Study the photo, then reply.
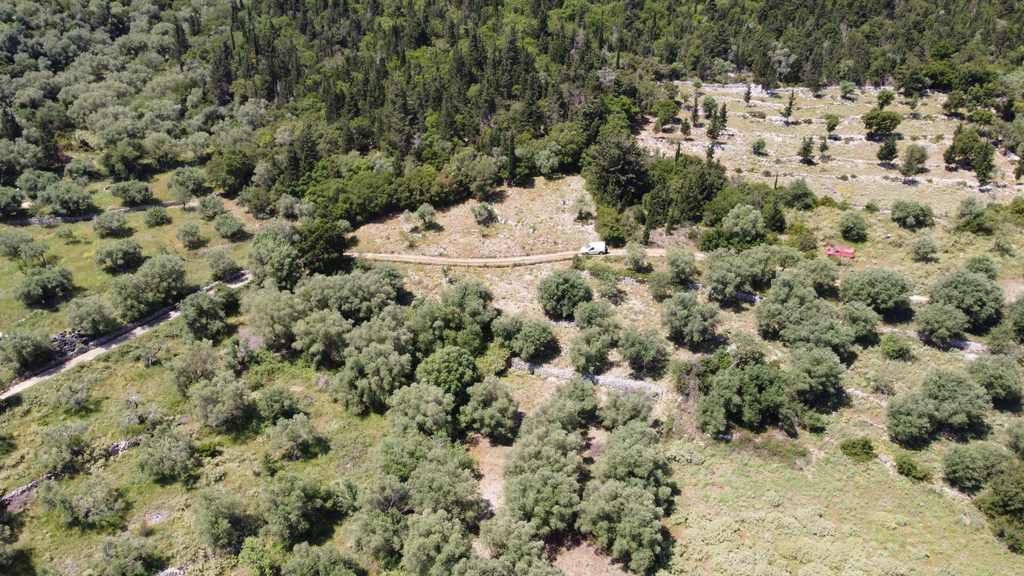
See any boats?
No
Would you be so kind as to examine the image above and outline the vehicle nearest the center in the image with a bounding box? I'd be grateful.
[581,242,606,256]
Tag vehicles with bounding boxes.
[581,242,606,256]
[826,247,856,259]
